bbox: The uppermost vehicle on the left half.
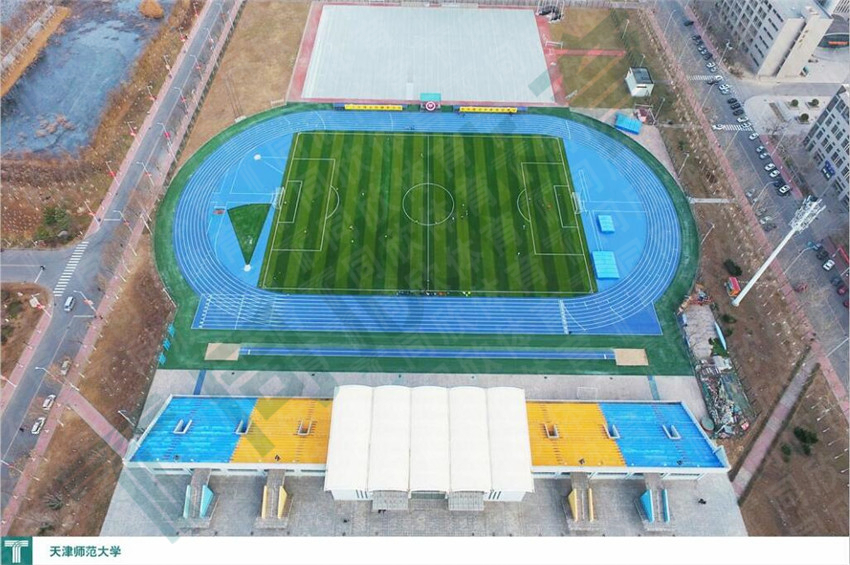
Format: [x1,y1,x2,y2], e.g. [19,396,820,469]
[61,295,77,313]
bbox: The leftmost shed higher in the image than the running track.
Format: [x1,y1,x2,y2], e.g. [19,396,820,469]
[628,70,656,96]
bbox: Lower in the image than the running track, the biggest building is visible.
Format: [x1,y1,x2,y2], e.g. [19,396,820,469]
[325,385,532,518]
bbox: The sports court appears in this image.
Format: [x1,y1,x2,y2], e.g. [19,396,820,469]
[285,3,566,105]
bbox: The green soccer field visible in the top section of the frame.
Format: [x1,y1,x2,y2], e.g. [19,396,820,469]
[258,131,598,298]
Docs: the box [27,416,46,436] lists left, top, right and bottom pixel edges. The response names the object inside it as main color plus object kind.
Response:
white car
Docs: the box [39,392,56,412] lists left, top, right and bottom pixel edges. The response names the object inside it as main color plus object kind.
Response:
white car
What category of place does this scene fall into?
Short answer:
sports ground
